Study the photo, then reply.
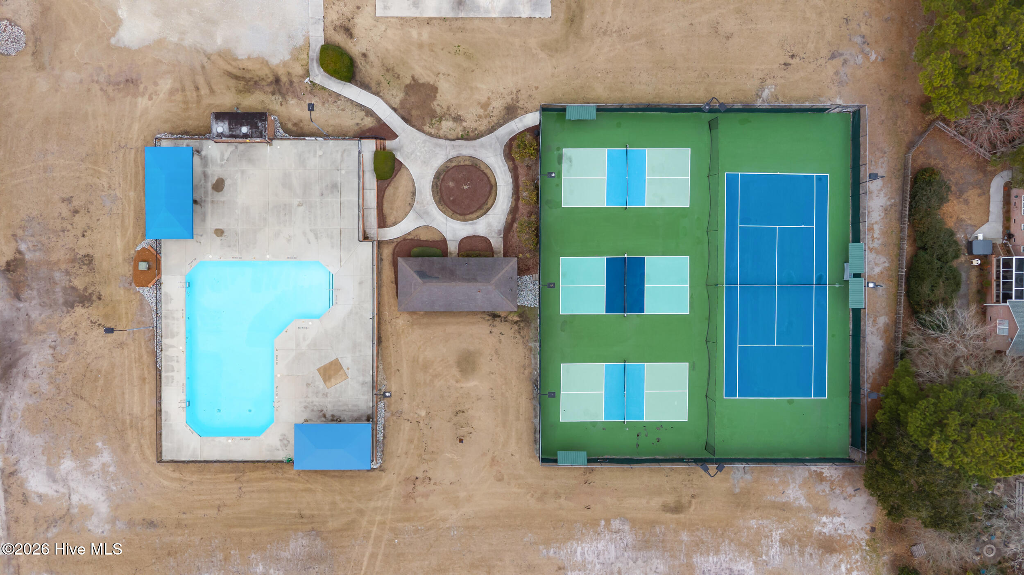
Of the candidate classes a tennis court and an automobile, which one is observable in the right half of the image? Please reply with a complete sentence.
The feature located in the right half of the image is a tennis court.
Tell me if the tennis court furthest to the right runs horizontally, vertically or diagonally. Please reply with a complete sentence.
The tennis court furthest to the right is laid out vertically.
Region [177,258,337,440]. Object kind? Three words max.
swimming pool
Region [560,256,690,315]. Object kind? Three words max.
sports court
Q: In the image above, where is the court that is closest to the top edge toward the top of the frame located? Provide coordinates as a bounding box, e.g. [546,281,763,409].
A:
[562,148,691,207]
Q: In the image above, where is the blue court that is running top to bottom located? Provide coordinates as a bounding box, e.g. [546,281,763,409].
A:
[724,172,829,400]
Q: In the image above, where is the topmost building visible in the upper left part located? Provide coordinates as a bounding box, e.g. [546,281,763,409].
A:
[211,107,277,143]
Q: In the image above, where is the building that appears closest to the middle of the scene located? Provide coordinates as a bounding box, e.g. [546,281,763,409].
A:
[397,257,518,312]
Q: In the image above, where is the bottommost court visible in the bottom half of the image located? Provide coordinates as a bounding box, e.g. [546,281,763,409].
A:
[560,363,689,422]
